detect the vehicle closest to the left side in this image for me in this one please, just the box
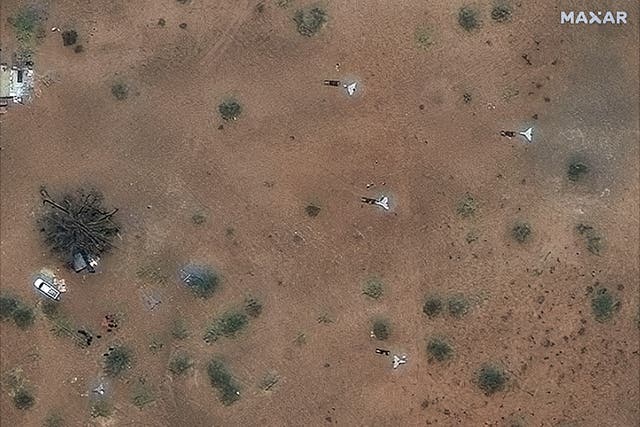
[34,280,60,301]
